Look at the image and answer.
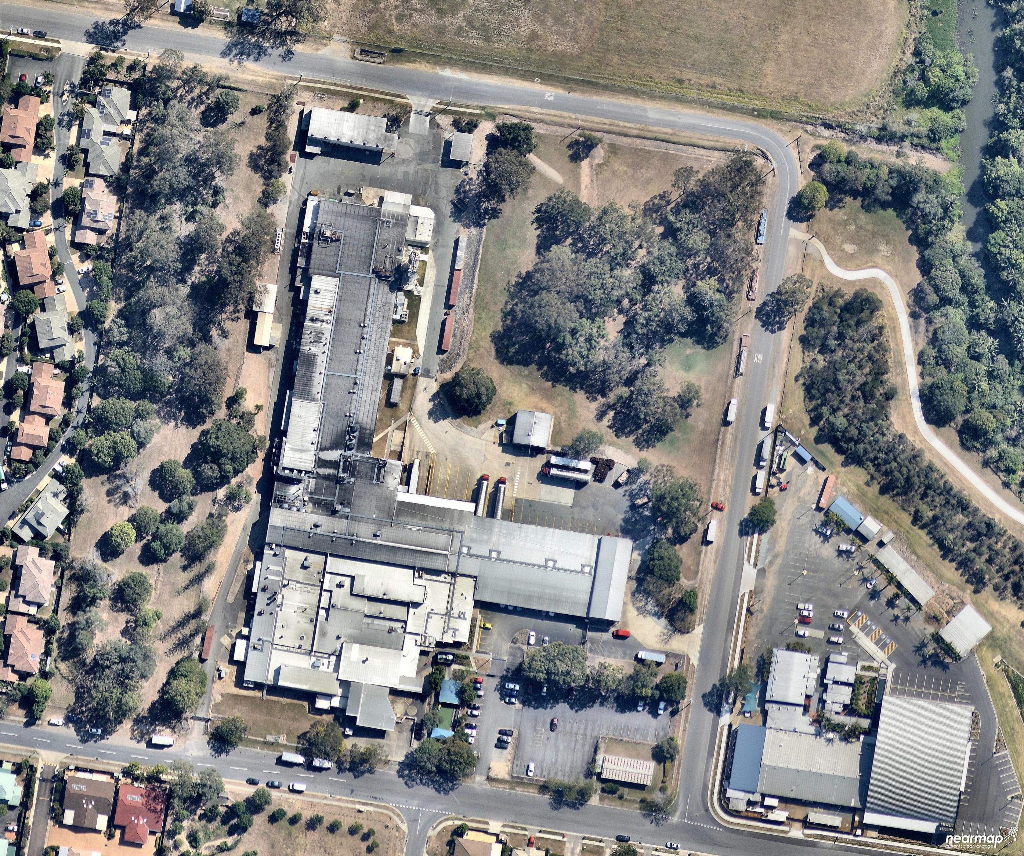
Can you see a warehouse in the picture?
Yes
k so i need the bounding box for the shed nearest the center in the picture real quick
[513,410,553,449]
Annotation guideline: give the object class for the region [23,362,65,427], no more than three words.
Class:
house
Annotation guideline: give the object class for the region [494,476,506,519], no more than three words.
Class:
vehicle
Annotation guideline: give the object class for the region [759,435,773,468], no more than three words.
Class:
vehicle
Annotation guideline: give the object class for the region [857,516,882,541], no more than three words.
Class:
building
